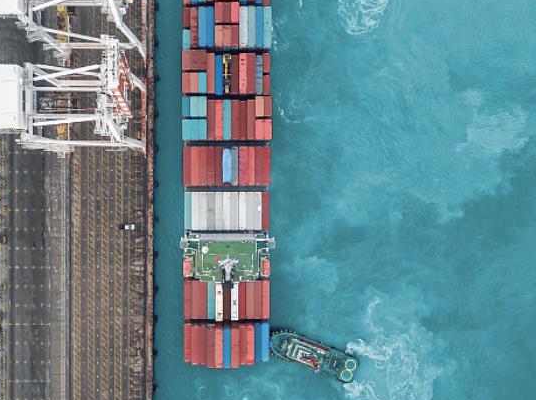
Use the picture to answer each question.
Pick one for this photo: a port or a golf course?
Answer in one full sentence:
The picture captures a port.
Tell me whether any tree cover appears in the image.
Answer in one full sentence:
No, there is no tree cover in the image.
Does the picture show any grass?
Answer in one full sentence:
No, the picture contains no grass.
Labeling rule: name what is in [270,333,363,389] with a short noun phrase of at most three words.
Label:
boat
